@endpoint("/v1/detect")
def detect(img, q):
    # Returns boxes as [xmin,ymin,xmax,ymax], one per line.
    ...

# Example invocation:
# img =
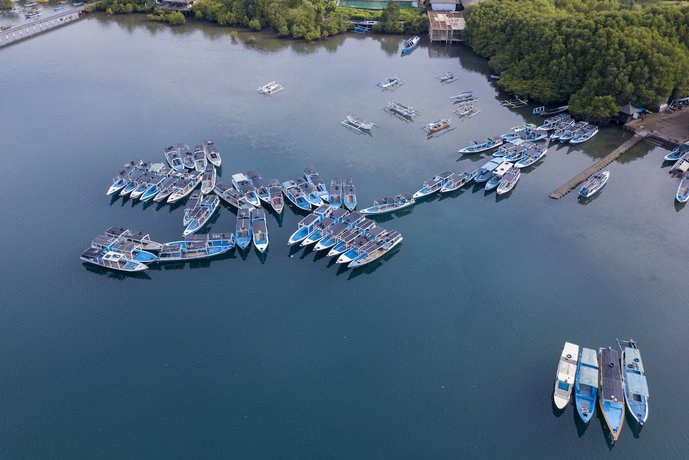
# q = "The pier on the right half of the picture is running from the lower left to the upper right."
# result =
[551,133,651,201]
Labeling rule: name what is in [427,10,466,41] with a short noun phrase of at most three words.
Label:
building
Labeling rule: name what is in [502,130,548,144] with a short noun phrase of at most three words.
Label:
boat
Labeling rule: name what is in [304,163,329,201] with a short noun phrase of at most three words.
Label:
boat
